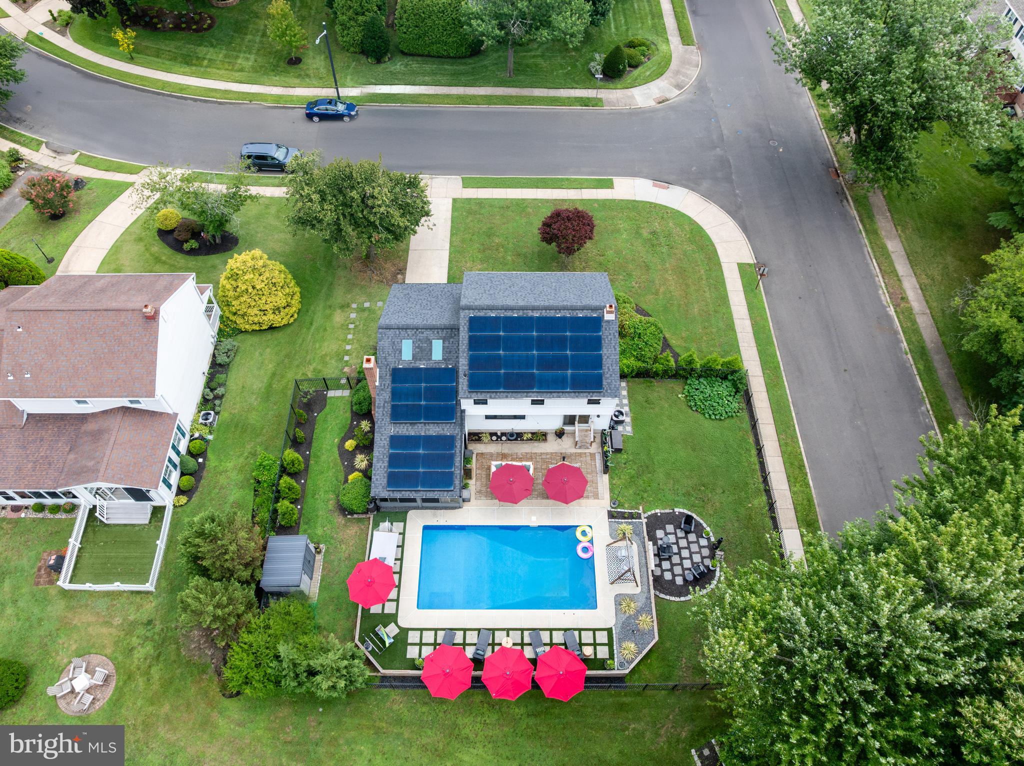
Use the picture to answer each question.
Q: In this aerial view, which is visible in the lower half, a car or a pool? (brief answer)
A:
pool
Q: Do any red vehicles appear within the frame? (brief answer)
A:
No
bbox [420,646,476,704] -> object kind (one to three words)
umbrella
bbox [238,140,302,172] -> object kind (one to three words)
car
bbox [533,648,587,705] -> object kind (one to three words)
umbrella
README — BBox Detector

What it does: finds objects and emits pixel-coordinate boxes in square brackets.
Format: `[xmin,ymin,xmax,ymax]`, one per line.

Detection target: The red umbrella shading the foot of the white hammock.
[344,561,397,611]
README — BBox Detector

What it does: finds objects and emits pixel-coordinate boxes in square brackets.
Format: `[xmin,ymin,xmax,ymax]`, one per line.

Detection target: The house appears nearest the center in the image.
[360,271,620,509]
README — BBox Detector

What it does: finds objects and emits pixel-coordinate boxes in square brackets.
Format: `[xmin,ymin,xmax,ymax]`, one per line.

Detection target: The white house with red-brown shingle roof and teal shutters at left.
[0,273,218,505]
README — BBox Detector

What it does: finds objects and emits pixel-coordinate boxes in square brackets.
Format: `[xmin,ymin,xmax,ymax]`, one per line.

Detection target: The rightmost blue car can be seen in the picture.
[304,96,359,120]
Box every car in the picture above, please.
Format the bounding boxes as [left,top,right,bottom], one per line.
[304,96,359,120]
[238,140,302,172]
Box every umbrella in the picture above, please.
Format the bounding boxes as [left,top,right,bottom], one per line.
[344,561,397,611]
[420,646,476,704]
[541,465,588,507]
[488,465,534,507]
[533,648,587,705]
[480,648,536,706]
